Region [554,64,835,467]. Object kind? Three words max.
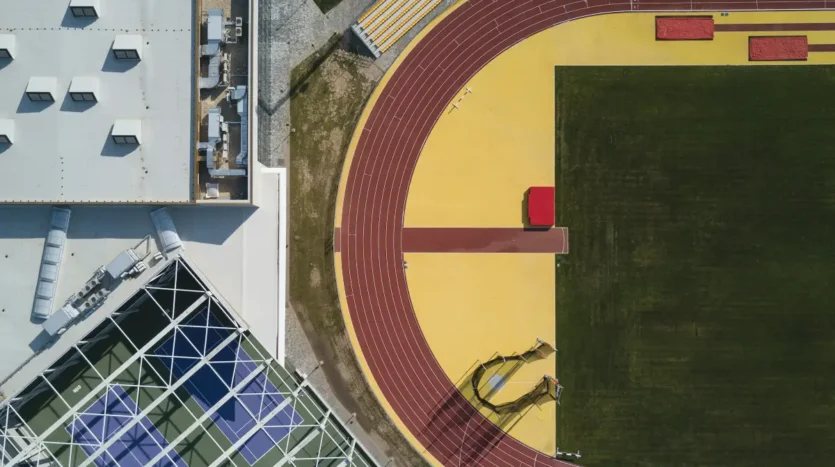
sports field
